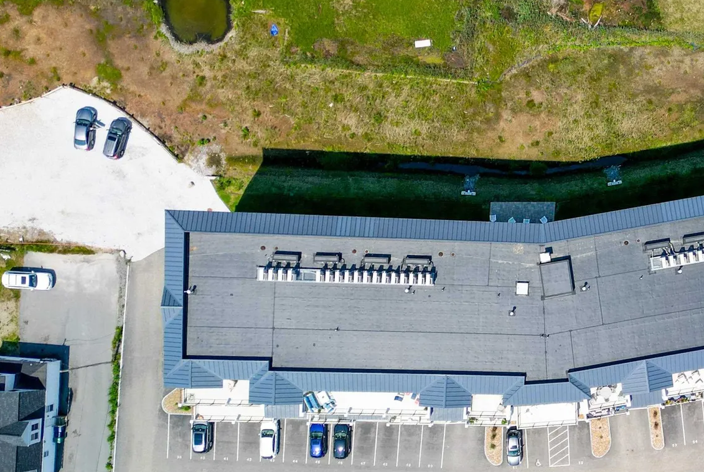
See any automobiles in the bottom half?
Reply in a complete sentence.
Yes, an automobile can be seen in the bottom half.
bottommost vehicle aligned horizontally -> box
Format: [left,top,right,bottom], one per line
[6,270,50,290]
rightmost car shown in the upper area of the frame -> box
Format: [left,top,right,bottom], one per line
[103,118,132,159]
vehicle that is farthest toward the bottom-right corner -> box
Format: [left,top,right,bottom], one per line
[504,426,523,466]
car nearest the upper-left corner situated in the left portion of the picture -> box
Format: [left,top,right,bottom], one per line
[76,109,102,150]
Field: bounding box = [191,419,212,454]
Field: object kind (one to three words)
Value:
car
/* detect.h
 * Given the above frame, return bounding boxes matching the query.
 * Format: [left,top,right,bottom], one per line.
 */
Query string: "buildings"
[160,195,704,430]
[0,353,62,472]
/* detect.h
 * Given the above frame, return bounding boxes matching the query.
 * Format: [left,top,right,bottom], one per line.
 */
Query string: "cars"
[332,422,350,457]
[6,270,50,290]
[307,422,326,456]
[103,118,132,159]
[76,109,102,150]
[504,426,523,466]
[191,419,212,454]
[259,421,279,458]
